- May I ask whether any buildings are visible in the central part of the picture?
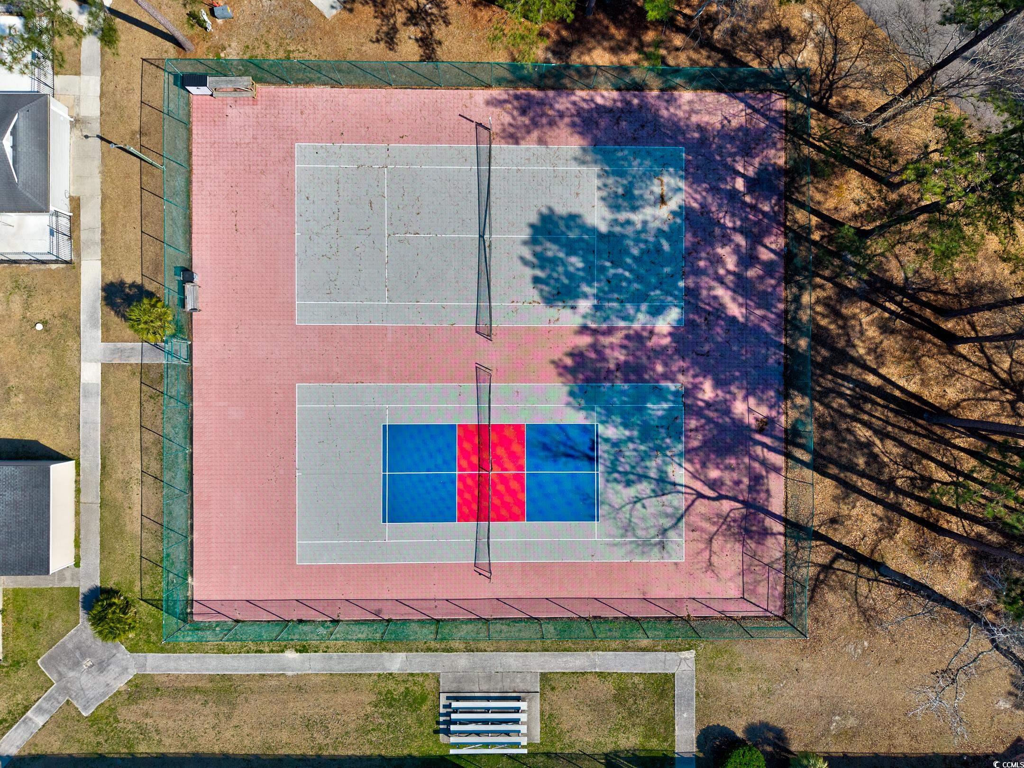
No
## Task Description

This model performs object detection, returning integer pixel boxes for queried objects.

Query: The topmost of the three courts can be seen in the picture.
[295,144,684,325]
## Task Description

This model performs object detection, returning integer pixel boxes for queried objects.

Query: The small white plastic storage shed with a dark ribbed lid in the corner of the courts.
[184,74,216,96]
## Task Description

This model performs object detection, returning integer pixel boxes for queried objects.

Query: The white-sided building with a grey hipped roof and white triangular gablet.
[0,93,75,220]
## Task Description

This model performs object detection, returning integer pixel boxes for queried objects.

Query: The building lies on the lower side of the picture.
[0,461,76,578]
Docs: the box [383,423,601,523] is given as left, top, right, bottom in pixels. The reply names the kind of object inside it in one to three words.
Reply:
sports court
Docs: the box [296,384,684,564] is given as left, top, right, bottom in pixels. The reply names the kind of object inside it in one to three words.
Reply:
tennis court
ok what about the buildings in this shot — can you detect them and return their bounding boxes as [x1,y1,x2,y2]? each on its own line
[184,74,216,96]
[0,93,75,220]
[0,461,76,578]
